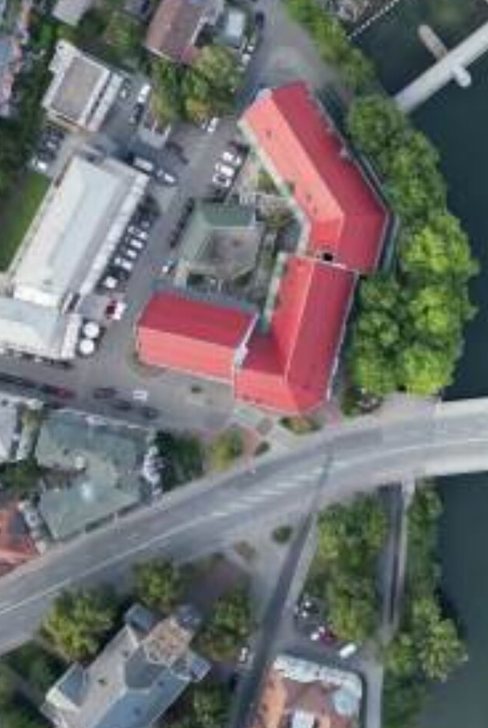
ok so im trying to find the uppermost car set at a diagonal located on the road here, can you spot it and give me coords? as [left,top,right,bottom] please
[251,9,269,29]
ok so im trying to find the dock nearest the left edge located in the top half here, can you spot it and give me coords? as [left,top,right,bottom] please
[416,26,449,64]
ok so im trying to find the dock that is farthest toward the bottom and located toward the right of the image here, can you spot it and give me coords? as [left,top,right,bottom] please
[450,68,471,92]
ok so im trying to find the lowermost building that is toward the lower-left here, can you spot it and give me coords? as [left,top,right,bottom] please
[41,602,213,728]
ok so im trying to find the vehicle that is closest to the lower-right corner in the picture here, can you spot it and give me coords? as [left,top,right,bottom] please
[336,643,360,660]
